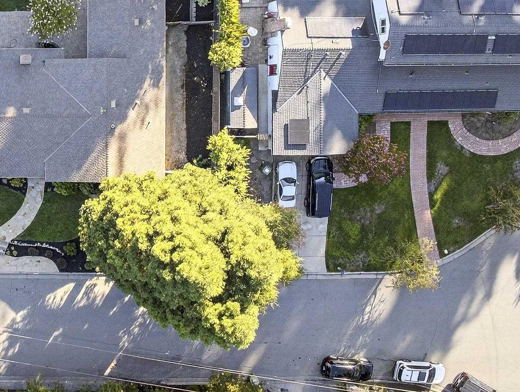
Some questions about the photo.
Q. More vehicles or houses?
vehicles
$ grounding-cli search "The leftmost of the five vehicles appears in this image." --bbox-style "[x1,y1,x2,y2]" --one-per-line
[277,160,303,209]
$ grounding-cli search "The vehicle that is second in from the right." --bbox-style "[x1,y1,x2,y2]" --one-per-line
[395,361,450,389]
